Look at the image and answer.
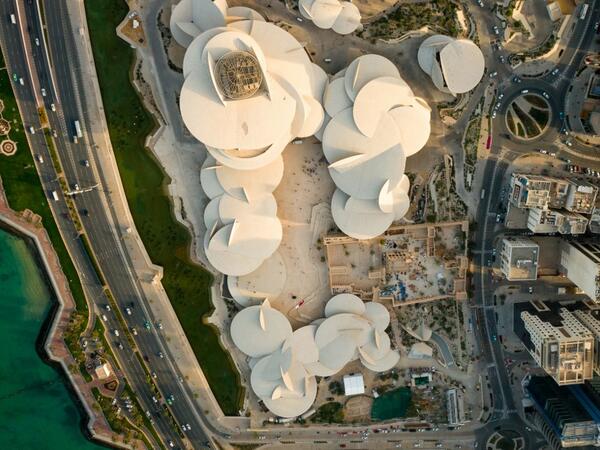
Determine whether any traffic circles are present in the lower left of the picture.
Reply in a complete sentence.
No, no traffic circle appears in the lower left of the picture.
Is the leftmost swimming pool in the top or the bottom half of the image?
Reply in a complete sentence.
The bottom half of the photo is where the leftmost swimming pool is.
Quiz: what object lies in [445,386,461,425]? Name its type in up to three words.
shed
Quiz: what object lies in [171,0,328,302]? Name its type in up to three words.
building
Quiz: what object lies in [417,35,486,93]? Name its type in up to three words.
building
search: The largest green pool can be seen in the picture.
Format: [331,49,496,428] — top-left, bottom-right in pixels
[372,386,412,421]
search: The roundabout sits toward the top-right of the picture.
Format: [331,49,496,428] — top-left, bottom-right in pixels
[492,81,565,151]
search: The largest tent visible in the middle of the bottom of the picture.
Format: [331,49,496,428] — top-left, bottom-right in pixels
[343,372,364,396]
